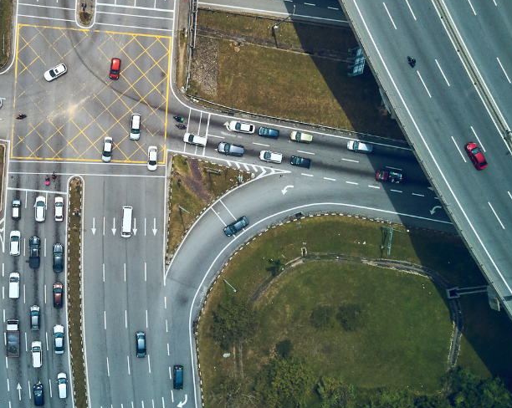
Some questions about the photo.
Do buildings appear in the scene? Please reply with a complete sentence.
No, I find no building anywhere in the image.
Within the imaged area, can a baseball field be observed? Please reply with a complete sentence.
No, I find no baseball field anywhere in the image.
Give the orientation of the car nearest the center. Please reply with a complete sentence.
The car nearest the center is oriented diagonally.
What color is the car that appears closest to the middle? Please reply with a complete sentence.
The car that appears closest to the middle is blue.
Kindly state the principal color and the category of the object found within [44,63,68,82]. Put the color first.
white car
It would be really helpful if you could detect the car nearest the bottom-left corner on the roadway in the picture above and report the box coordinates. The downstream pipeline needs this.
[32,382,45,407]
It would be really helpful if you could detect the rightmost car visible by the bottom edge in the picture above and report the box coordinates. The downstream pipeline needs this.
[172,364,185,389]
